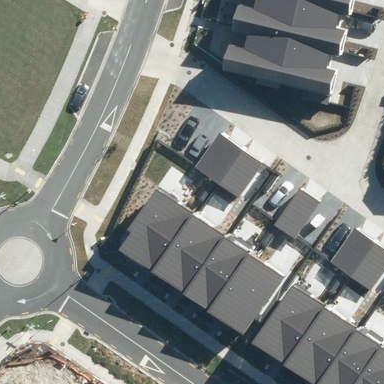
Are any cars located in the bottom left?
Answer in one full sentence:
No, in the bottom left there is no car.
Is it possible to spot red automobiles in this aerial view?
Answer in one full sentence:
No, the photo shows no red automobile.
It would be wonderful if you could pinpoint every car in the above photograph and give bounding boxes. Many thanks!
[68,84,89,114]
[266,180,291,210]
[322,223,348,255]
[188,134,208,160]
[343,17,376,34]
[176,117,197,150]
